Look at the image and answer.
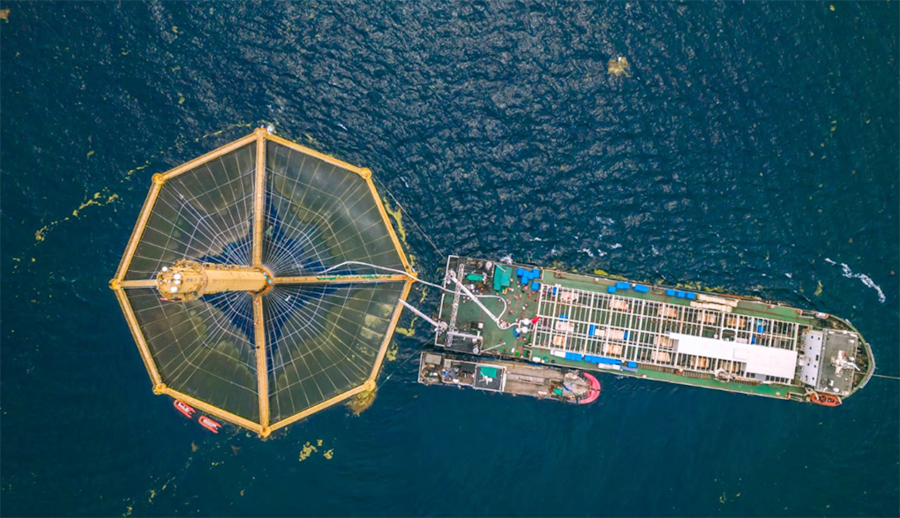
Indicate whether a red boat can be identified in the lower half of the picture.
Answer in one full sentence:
Yes, a red boat can be seen in the lower half of the picture.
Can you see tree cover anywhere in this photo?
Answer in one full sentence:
No, there's no tree cover in this view.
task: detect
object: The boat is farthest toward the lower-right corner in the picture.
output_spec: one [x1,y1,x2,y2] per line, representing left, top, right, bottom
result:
[809,393,843,407]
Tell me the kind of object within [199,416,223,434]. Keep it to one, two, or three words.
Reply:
boat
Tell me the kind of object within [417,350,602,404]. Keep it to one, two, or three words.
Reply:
boat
